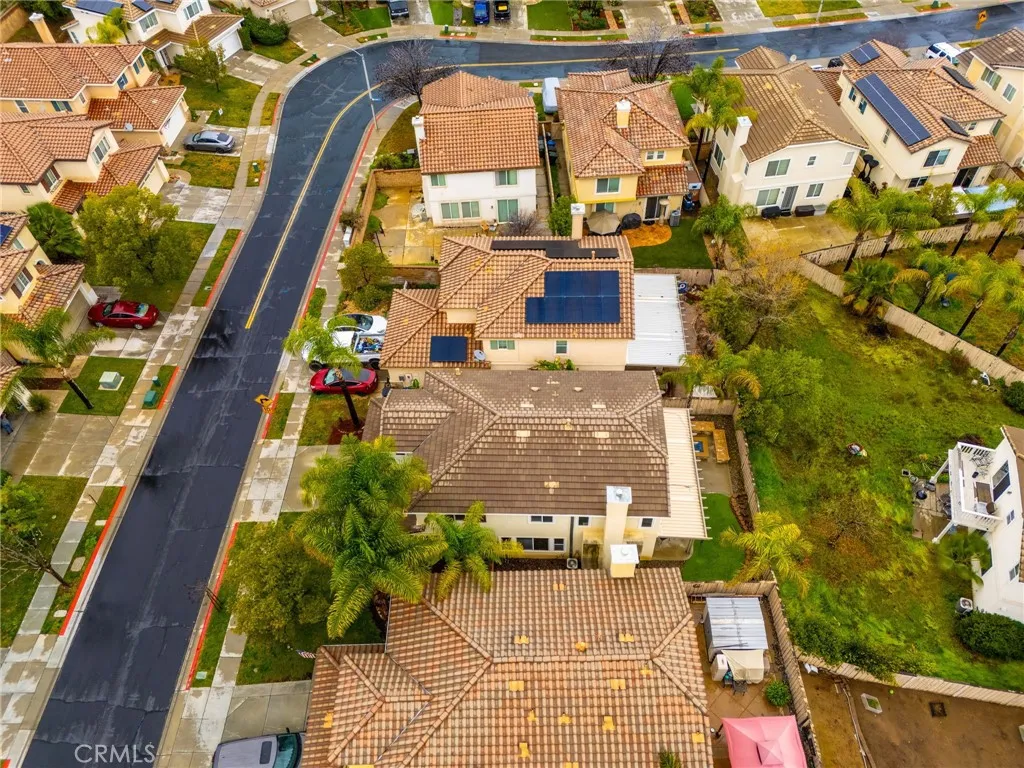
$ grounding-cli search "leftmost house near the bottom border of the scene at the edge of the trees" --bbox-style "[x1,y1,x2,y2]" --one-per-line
[301,547,714,768]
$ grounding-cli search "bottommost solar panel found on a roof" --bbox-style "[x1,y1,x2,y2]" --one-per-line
[431,336,467,361]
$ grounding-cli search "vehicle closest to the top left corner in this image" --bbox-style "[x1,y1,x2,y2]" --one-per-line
[179,132,239,158]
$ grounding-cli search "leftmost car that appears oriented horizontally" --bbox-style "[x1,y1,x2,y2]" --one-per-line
[87,300,159,330]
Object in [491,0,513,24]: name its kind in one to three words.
car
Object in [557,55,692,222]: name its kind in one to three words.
house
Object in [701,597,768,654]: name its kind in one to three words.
shed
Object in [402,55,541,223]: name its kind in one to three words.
house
